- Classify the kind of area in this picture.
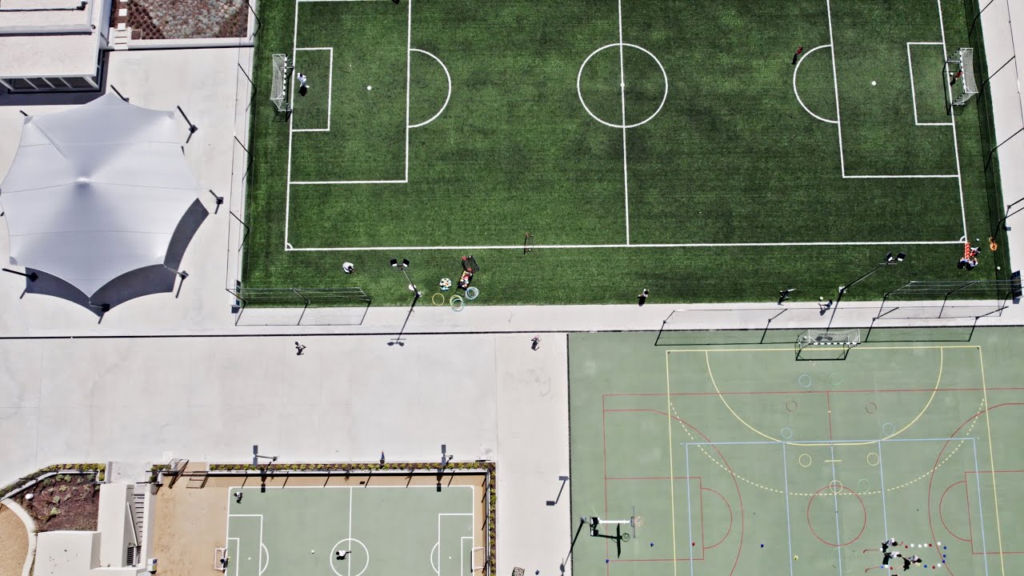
sports ground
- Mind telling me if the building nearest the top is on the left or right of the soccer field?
left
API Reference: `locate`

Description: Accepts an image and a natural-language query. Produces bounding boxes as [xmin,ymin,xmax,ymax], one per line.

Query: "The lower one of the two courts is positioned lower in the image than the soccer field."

[225,484,474,576]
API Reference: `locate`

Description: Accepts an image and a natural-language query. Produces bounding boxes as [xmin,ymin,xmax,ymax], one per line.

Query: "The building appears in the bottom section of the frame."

[32,530,101,576]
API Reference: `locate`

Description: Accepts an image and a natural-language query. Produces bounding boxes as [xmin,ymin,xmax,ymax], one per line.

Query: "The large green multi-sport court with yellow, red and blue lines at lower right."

[569,327,1024,576]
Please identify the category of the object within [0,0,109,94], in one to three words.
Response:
building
